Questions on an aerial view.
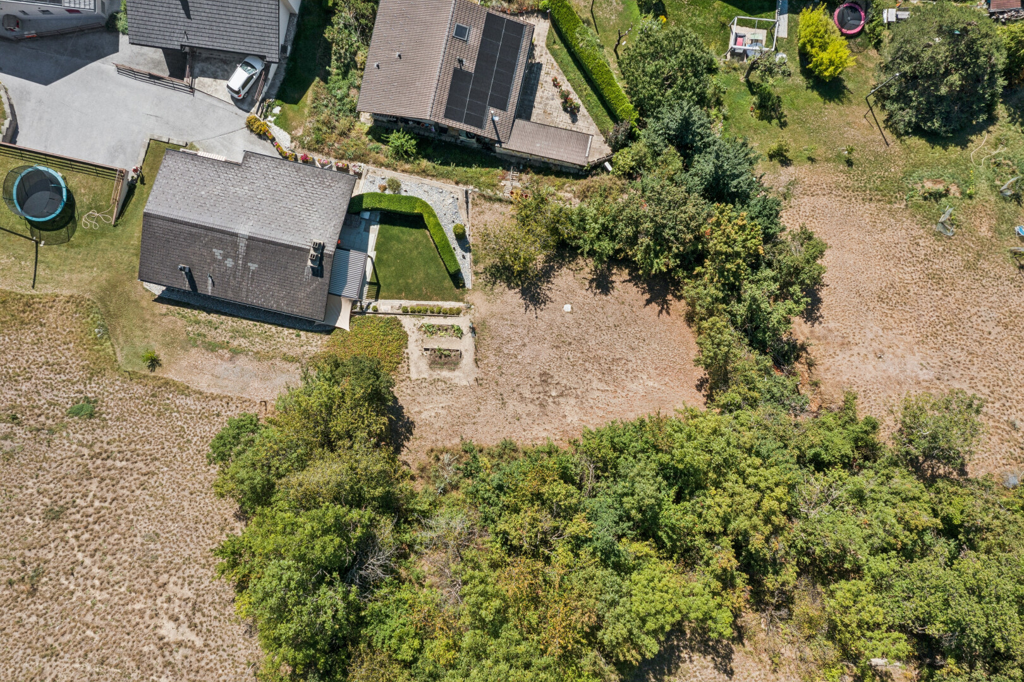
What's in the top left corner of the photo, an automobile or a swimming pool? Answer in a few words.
automobile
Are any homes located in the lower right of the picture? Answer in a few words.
No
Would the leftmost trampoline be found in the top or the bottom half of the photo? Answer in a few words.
top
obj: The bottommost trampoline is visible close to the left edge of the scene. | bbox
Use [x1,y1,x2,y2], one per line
[0,161,72,221]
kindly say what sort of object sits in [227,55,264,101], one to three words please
car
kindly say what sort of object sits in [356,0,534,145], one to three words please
house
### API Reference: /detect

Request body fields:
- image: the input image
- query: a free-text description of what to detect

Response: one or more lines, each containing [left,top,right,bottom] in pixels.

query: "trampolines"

[0,161,72,221]
[833,0,873,37]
